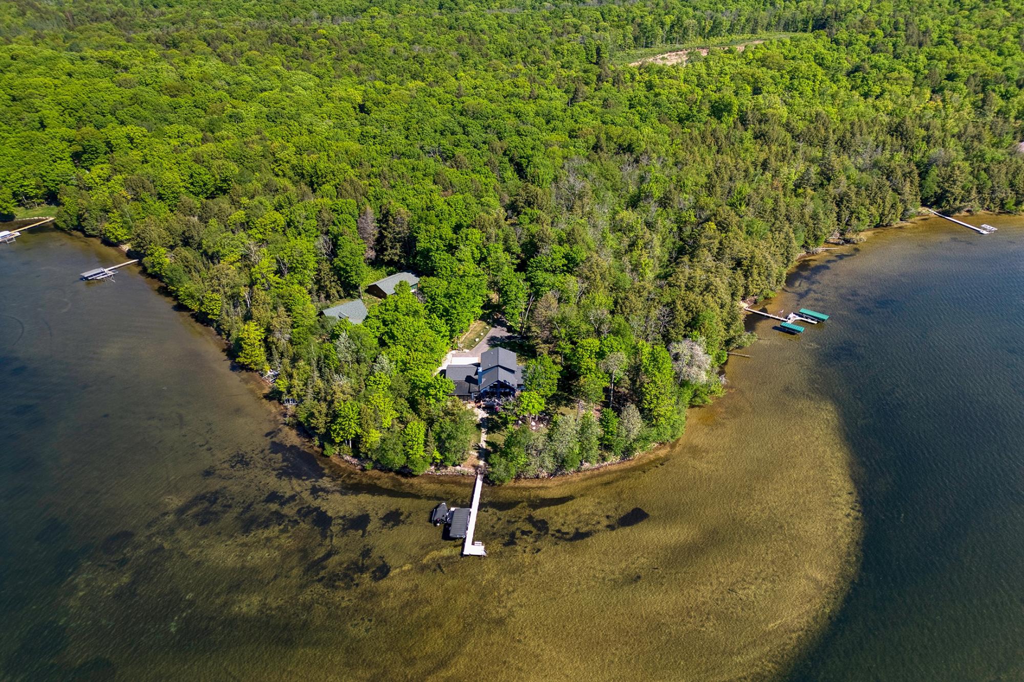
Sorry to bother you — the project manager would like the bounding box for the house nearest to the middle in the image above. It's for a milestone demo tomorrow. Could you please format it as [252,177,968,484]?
[446,346,530,403]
